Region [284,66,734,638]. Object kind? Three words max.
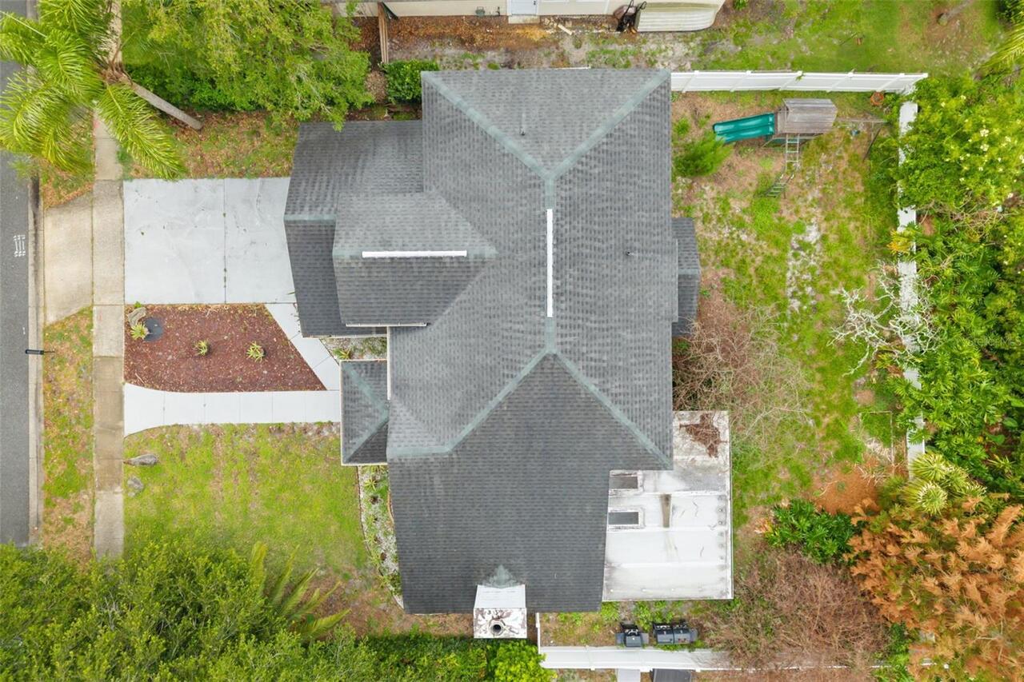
house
